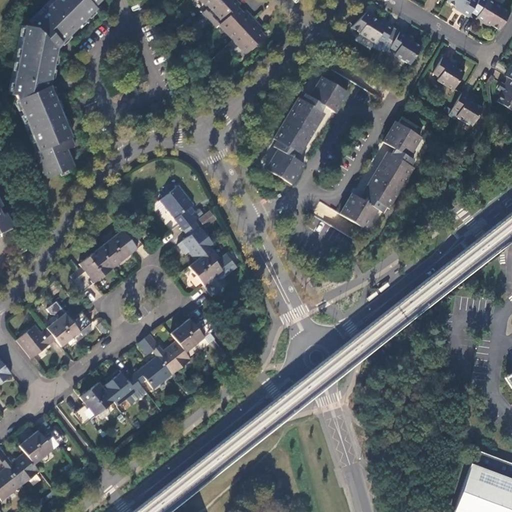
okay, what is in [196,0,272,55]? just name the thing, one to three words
building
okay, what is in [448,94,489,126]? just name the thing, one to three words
house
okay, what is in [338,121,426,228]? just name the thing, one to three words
building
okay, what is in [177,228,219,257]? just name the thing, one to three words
house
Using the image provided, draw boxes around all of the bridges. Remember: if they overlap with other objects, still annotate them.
[134,213,512,512]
